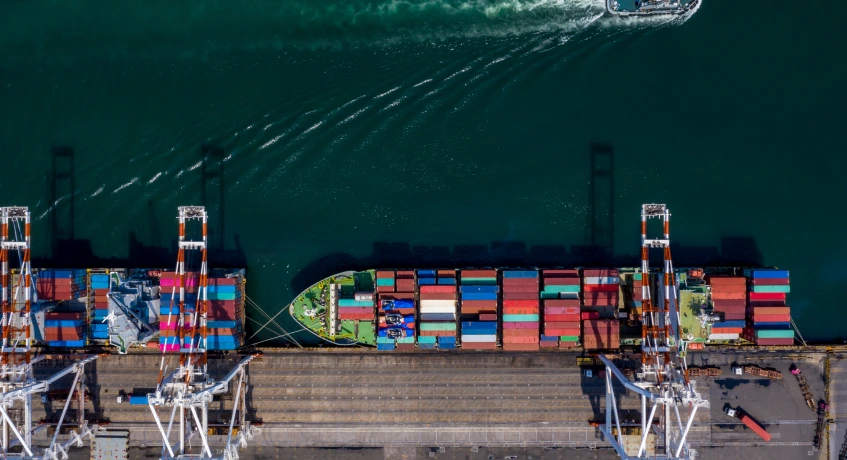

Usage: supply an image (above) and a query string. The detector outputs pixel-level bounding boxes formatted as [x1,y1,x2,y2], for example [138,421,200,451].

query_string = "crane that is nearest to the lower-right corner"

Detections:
[586,204,711,460]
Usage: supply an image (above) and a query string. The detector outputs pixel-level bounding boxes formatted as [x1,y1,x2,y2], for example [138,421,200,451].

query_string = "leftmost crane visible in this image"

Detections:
[0,204,112,460]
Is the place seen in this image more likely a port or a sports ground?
port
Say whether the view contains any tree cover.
No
